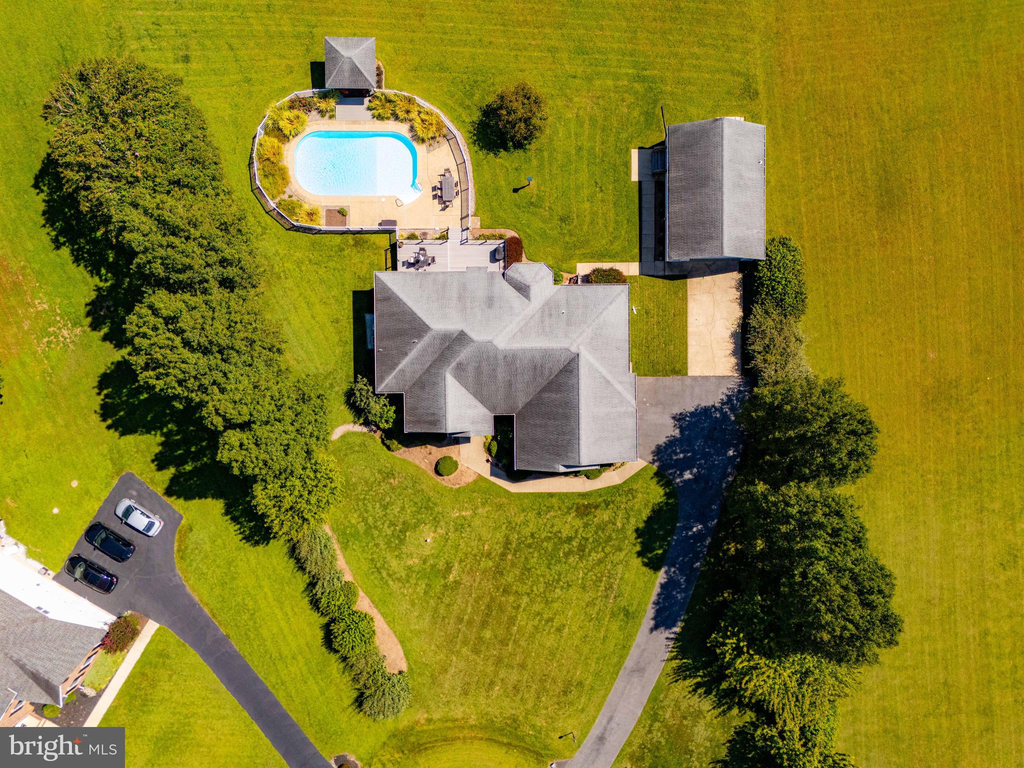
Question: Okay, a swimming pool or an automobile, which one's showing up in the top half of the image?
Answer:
swimming pool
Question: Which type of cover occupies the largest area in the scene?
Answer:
grass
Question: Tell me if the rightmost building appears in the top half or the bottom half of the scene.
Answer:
top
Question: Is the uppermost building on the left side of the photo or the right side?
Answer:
left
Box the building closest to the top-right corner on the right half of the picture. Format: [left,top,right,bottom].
[663,118,766,264]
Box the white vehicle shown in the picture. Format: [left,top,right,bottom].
[114,498,166,539]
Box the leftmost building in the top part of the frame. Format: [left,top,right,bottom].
[324,36,379,97]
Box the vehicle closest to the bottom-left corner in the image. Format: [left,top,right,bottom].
[63,552,121,597]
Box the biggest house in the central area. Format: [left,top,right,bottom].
[363,262,639,472]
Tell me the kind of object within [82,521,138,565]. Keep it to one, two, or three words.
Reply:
car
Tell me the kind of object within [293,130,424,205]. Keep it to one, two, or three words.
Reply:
swimming pool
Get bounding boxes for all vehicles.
[114,498,166,539]
[82,521,138,565]
[63,552,121,597]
